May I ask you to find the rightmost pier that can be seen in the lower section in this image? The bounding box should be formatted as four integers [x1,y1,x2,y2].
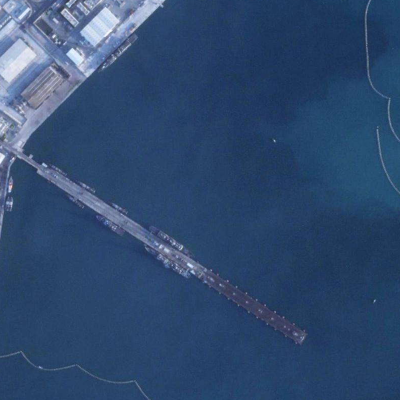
[17,151,306,343]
